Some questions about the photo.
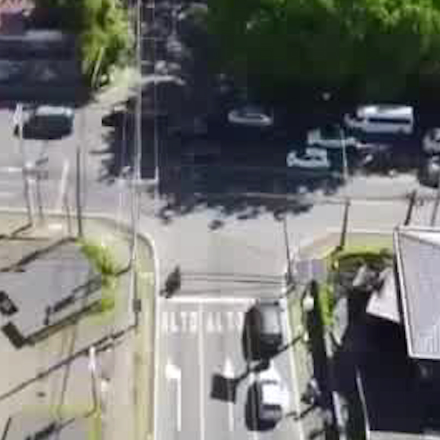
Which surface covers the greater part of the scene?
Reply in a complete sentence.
The largest share of the image is taken up by paved ground.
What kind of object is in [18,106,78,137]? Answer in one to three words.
car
